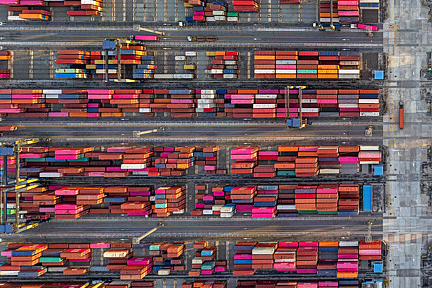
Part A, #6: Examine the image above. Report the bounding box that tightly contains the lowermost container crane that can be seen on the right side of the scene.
[286,83,310,127]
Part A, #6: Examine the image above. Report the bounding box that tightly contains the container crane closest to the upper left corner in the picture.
[102,38,140,84]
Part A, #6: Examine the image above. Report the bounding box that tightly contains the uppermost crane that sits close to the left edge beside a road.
[1,137,46,187]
